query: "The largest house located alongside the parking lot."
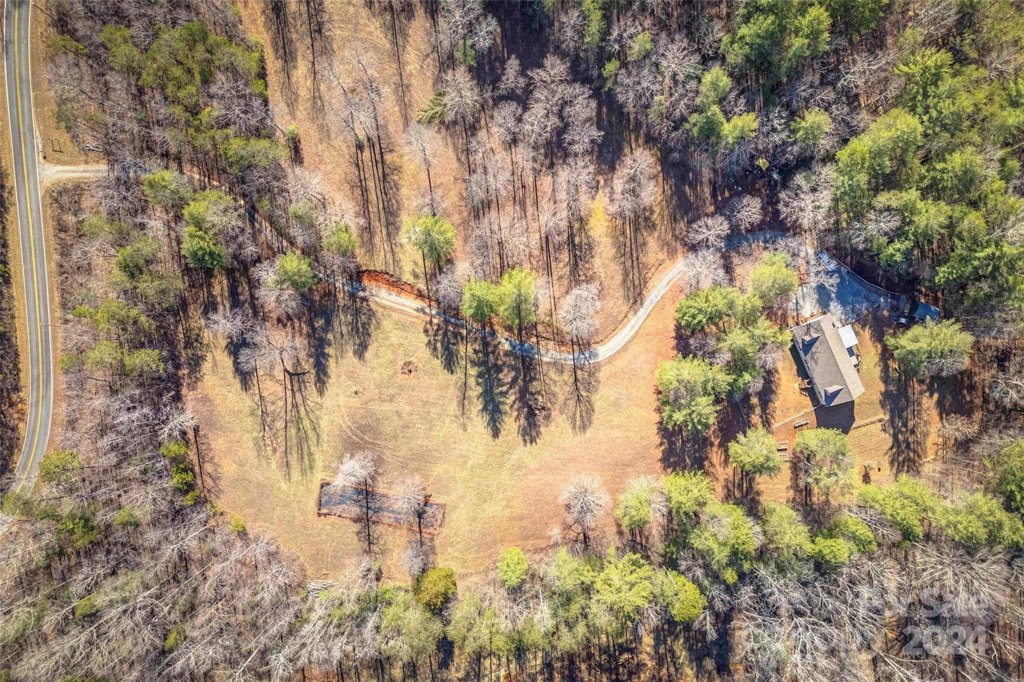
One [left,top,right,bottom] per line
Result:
[789,313,865,408]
